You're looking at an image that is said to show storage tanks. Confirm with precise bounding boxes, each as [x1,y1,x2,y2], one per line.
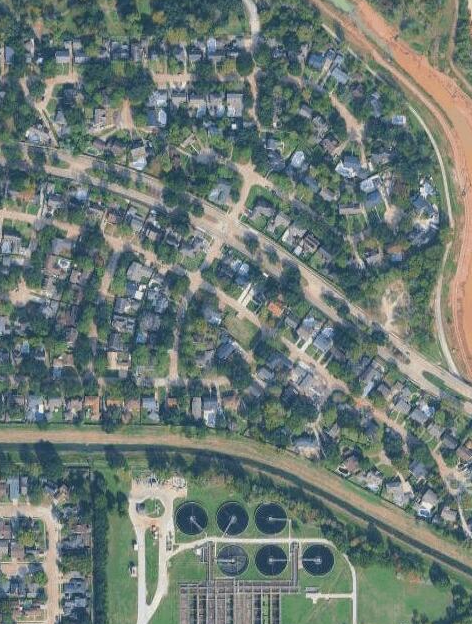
[214,544,249,577]
[176,501,208,534]
[301,544,334,577]
[255,544,292,577]
[255,501,292,534]
[217,501,249,535]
